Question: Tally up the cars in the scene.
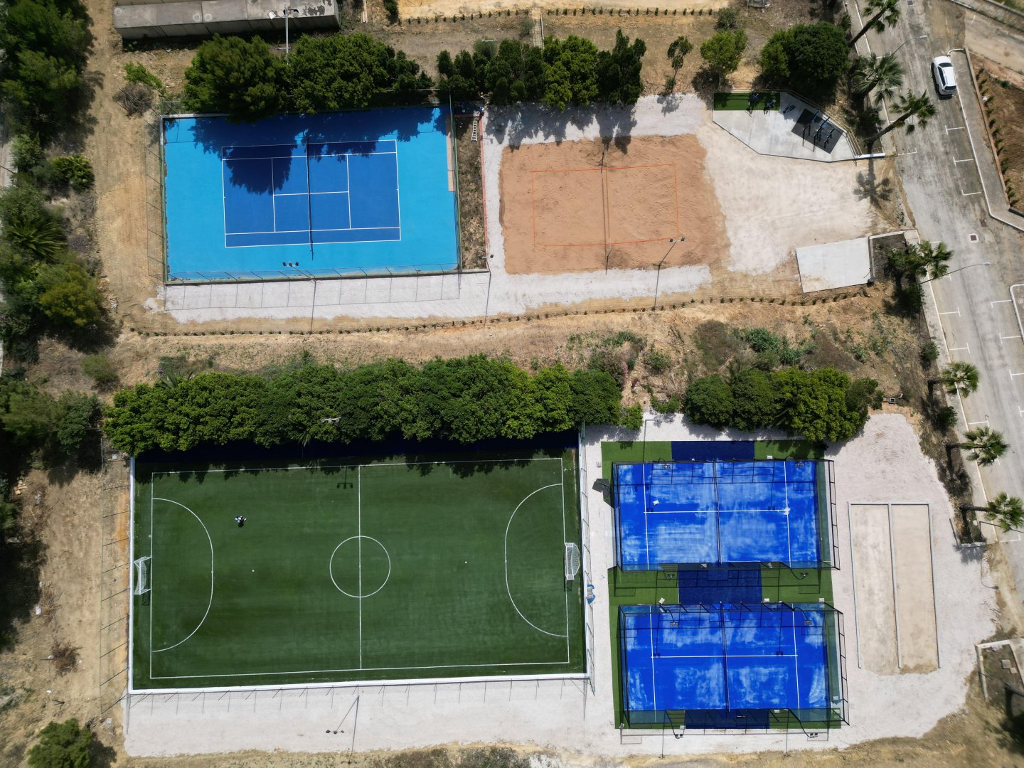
1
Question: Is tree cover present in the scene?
Yes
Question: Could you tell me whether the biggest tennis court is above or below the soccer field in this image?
above it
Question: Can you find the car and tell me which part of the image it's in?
top right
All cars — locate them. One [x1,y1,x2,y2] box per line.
[931,56,962,98]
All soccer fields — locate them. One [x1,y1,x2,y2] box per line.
[134,427,585,688]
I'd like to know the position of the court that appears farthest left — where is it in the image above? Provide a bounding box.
[161,105,460,283]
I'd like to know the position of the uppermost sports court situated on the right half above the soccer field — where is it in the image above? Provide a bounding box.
[499,133,733,275]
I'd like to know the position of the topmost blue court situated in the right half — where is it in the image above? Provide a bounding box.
[612,459,840,573]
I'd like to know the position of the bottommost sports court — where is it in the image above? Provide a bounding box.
[619,602,849,728]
